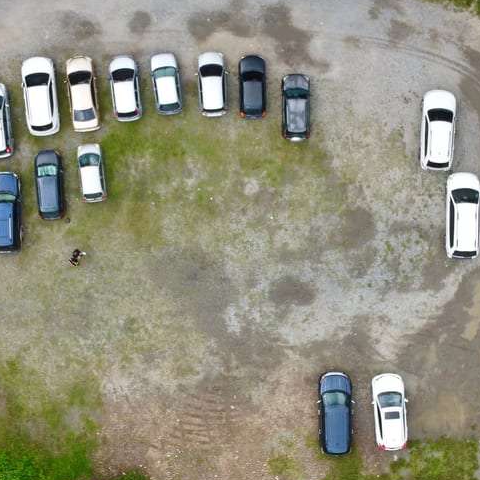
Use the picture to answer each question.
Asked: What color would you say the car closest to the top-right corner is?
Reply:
white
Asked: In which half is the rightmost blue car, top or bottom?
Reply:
bottom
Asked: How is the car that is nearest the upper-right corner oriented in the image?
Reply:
from top to bottom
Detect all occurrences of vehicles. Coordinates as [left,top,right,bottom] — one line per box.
[149,52,182,116]
[0,83,14,160]
[108,55,142,123]
[319,371,355,455]
[280,74,313,141]
[372,371,408,451]
[420,89,458,171]
[21,56,61,138]
[0,171,23,253]
[237,55,269,120]
[75,143,107,203]
[64,55,101,133]
[195,51,227,119]
[32,150,66,220]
